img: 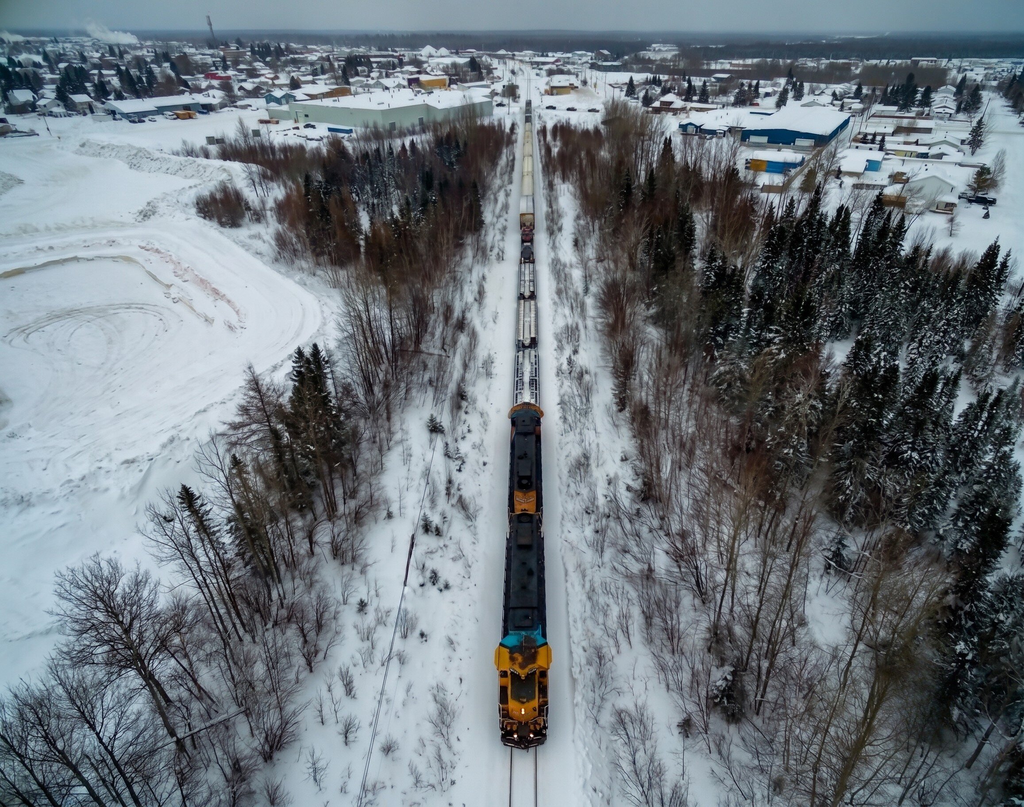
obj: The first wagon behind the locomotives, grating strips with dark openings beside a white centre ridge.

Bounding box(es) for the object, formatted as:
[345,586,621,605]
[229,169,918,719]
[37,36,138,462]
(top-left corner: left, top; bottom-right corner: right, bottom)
[512,345,540,413]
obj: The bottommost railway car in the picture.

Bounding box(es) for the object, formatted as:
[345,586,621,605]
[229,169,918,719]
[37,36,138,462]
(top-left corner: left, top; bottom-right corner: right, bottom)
[497,519,553,761]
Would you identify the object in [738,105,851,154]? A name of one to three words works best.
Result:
building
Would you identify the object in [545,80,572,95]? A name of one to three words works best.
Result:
building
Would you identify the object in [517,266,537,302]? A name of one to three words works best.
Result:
rail car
